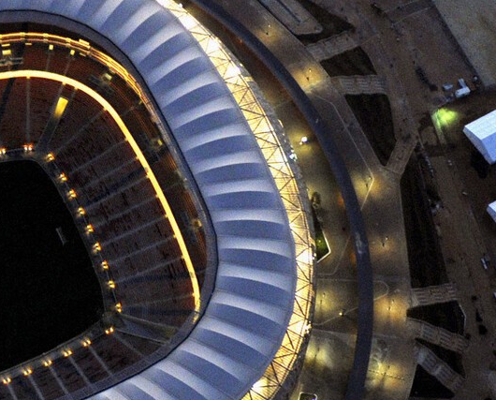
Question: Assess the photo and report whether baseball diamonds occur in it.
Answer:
No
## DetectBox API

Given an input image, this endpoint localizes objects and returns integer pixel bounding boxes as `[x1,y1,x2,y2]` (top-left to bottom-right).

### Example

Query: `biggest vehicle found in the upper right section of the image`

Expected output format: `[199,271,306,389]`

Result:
[456,80,469,97]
